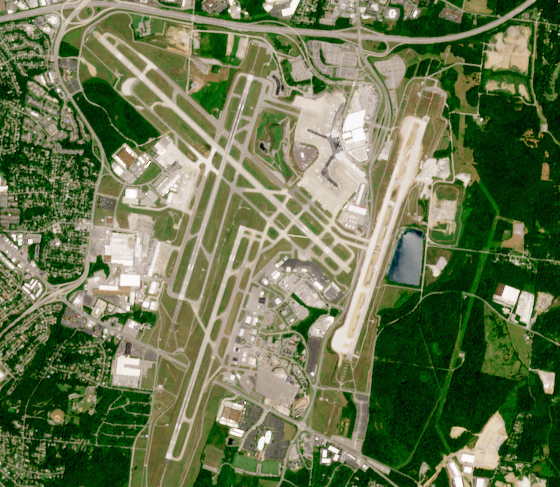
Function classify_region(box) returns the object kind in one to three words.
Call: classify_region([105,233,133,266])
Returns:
building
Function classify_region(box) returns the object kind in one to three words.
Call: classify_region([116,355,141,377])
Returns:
building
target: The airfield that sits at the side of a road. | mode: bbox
[82,14,428,487]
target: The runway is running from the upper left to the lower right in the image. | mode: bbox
[97,35,347,272]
